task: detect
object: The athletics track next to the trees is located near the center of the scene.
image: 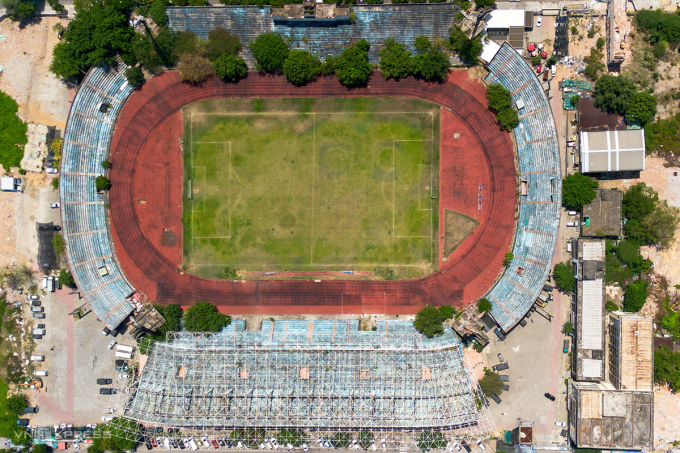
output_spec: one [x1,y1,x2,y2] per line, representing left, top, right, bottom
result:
[109,70,518,315]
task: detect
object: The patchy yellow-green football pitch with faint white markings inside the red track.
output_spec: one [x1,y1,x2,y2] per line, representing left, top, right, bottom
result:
[183,99,440,280]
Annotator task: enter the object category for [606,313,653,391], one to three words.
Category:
building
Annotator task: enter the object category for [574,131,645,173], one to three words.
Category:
building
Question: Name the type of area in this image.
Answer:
sports ground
